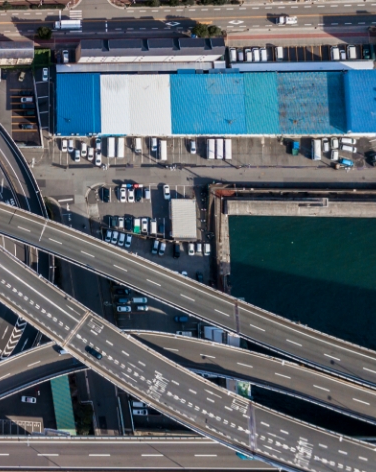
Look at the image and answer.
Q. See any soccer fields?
No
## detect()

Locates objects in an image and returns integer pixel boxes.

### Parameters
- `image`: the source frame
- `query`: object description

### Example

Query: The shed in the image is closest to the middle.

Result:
[168,199,197,238]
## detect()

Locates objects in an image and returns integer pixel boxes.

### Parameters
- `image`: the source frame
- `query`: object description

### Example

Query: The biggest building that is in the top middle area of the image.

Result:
[53,66,343,144]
